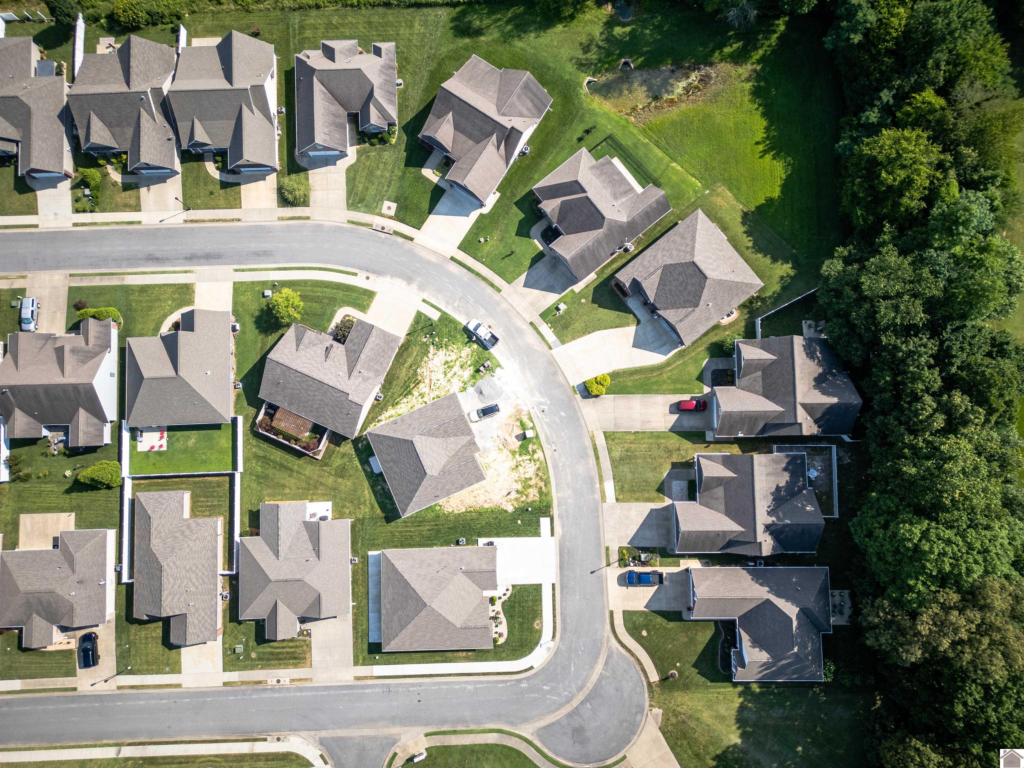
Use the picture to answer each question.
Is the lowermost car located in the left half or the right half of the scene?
left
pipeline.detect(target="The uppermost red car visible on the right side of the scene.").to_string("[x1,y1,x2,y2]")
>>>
[675,398,706,413]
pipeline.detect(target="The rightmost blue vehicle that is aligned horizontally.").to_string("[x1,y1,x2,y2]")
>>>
[626,571,664,587]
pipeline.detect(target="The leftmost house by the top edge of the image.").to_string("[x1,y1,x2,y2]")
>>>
[0,31,74,180]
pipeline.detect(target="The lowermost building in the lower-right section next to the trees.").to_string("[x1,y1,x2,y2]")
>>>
[687,564,832,682]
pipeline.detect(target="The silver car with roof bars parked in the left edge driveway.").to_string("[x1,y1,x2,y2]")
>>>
[18,297,39,331]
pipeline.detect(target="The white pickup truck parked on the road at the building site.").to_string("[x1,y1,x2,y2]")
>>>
[465,317,500,350]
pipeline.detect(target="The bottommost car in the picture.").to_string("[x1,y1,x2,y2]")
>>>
[79,633,99,668]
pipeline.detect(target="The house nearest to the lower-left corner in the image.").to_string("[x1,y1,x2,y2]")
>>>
[0,528,114,653]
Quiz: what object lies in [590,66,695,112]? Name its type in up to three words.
pond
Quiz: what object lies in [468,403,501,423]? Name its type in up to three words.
car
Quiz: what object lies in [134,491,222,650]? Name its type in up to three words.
house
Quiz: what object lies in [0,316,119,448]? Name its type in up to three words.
house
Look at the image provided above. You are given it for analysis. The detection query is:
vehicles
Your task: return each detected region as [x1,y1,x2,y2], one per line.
[465,317,500,350]
[626,571,664,587]
[675,398,706,413]
[18,297,39,331]
[468,403,501,423]
[79,633,99,668]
